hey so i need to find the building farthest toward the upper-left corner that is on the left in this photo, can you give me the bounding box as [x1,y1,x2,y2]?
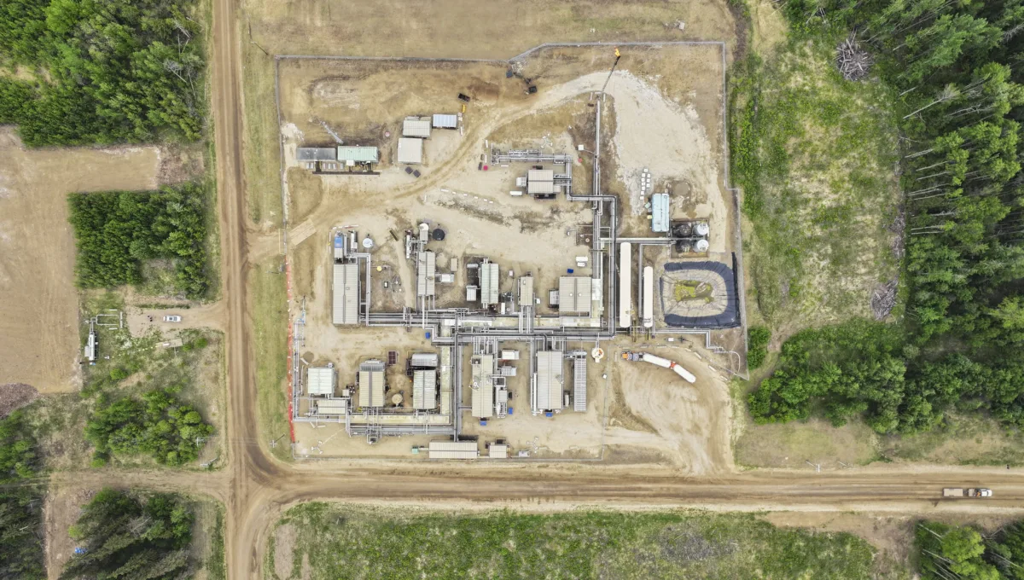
[338,145,379,168]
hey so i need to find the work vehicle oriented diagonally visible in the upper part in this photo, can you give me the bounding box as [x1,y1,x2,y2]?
[517,73,538,94]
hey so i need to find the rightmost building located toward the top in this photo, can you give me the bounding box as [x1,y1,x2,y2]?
[649,193,669,232]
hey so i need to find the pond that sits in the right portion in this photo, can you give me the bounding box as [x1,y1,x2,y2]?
[661,253,742,330]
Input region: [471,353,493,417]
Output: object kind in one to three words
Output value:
building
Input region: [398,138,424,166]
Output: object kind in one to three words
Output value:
shed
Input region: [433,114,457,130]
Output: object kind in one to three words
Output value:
shed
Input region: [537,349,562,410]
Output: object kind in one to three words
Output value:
building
